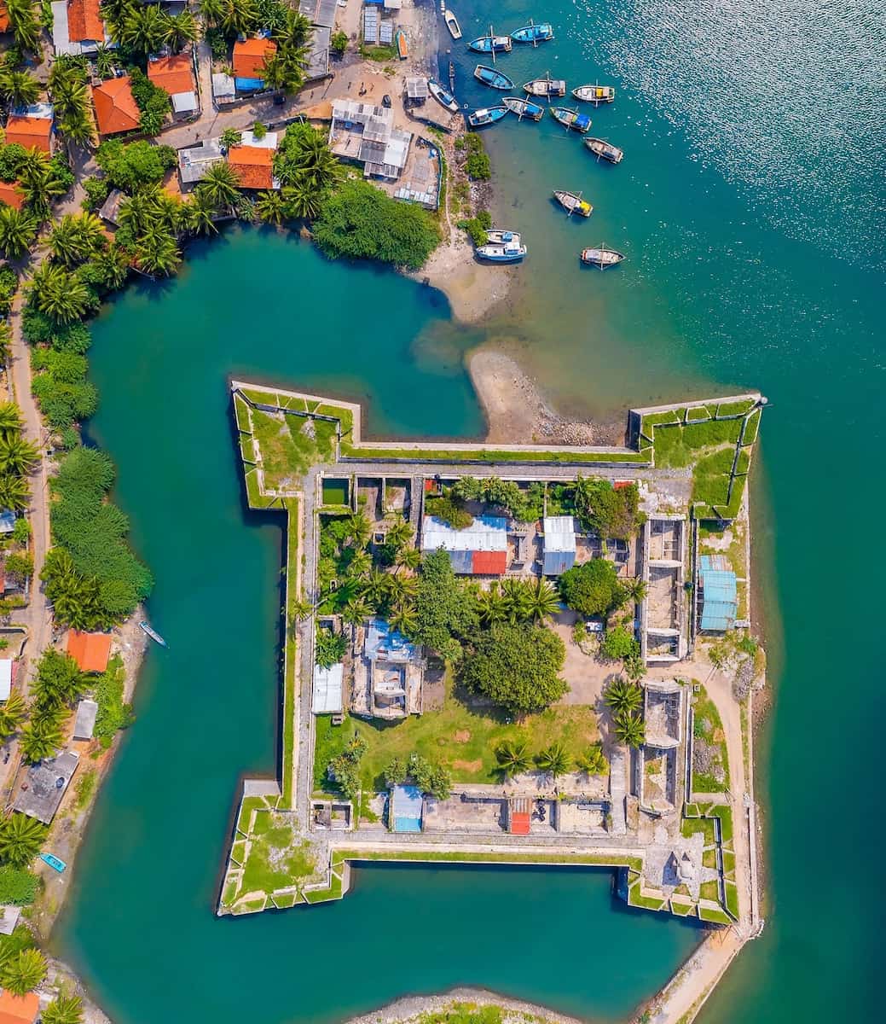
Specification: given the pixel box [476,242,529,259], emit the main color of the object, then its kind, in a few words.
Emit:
white boat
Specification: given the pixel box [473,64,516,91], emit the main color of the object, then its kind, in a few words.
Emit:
blue boat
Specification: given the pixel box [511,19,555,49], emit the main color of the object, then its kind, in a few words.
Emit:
blue boat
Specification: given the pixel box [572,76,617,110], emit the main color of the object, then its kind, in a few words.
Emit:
white boat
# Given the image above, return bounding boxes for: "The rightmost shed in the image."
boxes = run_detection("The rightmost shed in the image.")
[698,555,736,630]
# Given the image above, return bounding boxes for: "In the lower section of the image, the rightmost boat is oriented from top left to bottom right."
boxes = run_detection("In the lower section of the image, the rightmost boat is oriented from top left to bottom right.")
[140,621,169,648]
